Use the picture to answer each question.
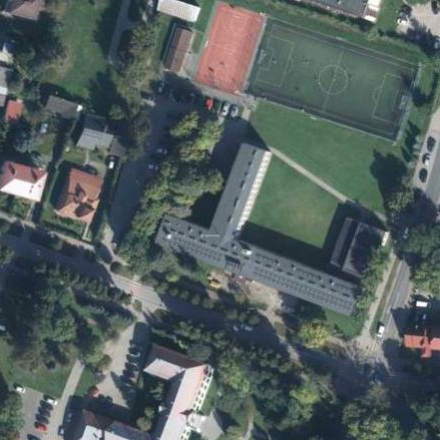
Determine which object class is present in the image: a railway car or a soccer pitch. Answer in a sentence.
I can see a soccer pitch in this picture.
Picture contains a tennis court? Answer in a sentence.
No, I can see no tennis court in this picture.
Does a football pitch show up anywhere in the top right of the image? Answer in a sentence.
Yes, a football pitch shows up in the top right of the image.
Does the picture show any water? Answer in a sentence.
No, the picture contains no water.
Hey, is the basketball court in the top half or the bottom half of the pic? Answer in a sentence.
You can find the basketball court in the top half.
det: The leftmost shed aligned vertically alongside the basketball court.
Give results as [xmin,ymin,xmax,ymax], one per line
[164,24,194,74]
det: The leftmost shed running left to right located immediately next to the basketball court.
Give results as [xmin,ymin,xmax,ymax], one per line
[156,0,202,23]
